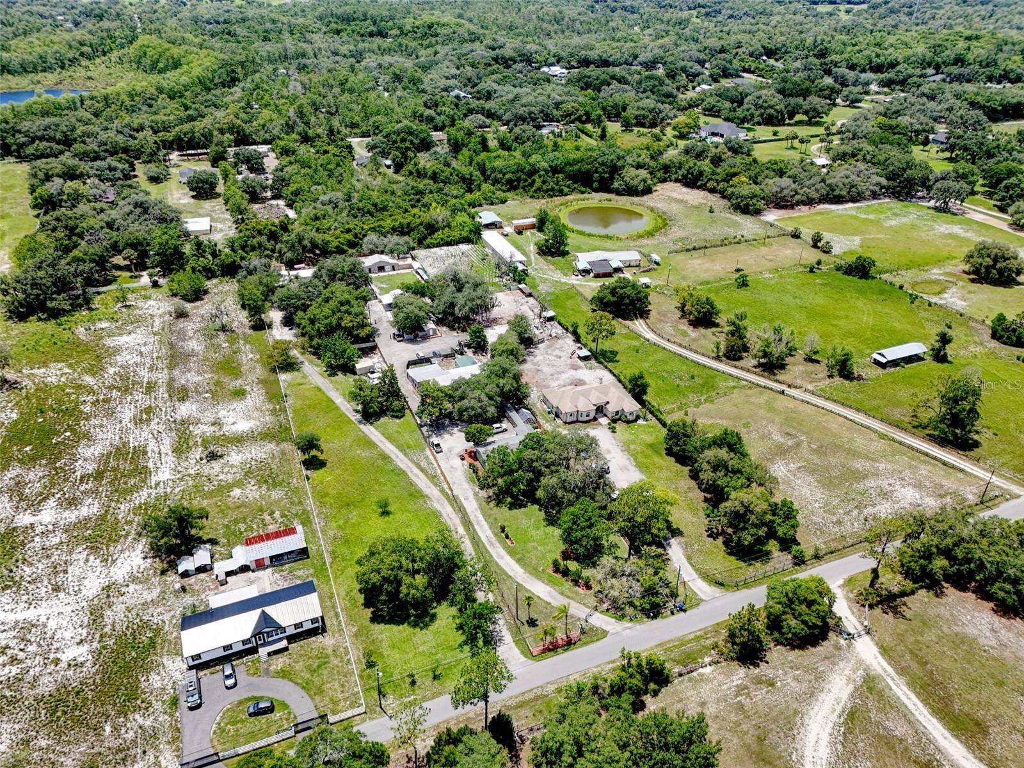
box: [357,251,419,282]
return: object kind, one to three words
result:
building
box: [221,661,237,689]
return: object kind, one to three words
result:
car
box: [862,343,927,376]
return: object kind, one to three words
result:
barn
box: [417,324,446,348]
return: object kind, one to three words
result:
house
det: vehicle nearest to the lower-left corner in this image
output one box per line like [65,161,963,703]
[181,663,200,707]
